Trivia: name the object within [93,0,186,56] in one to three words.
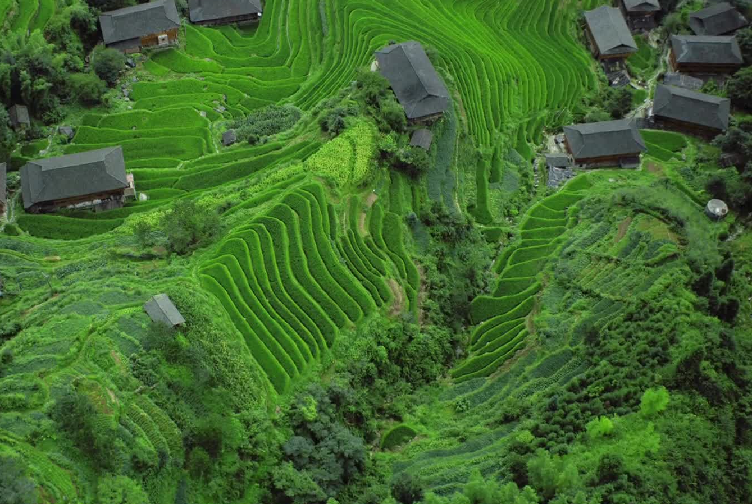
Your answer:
house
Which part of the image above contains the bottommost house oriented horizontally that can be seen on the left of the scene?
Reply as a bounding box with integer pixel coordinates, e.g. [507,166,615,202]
[17,146,137,221]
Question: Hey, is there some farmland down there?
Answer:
Yes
